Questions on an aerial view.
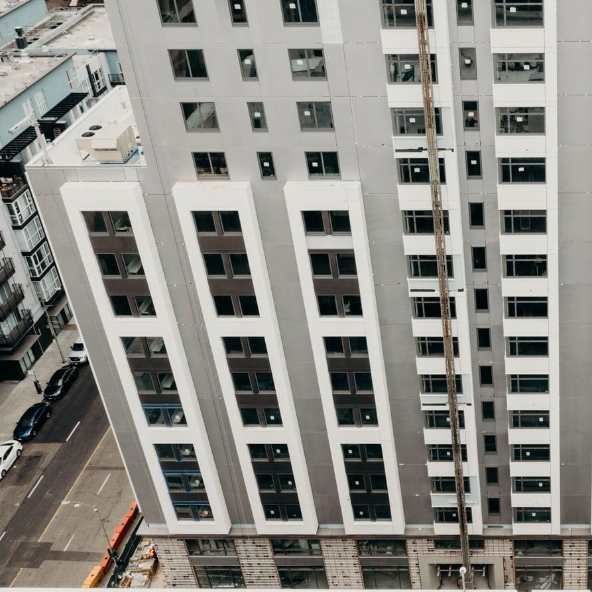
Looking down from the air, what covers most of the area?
buildings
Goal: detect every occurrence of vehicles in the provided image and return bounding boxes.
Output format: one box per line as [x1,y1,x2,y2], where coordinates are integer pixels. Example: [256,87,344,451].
[44,366,79,397]
[64,334,86,362]
[0,439,26,477]
[16,402,54,435]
